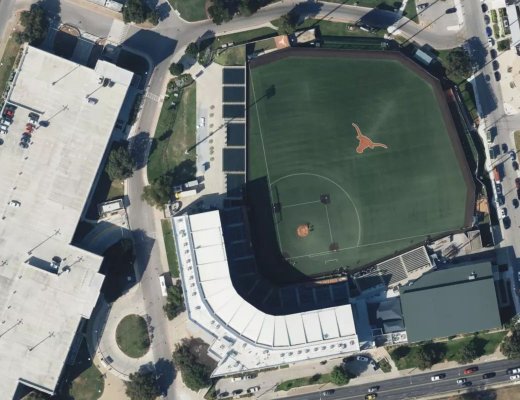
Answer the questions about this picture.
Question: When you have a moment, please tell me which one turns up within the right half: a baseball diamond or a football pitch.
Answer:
baseball diamond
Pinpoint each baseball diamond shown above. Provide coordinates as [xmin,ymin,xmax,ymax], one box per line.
[244,48,476,287]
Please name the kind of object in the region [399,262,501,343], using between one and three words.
building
